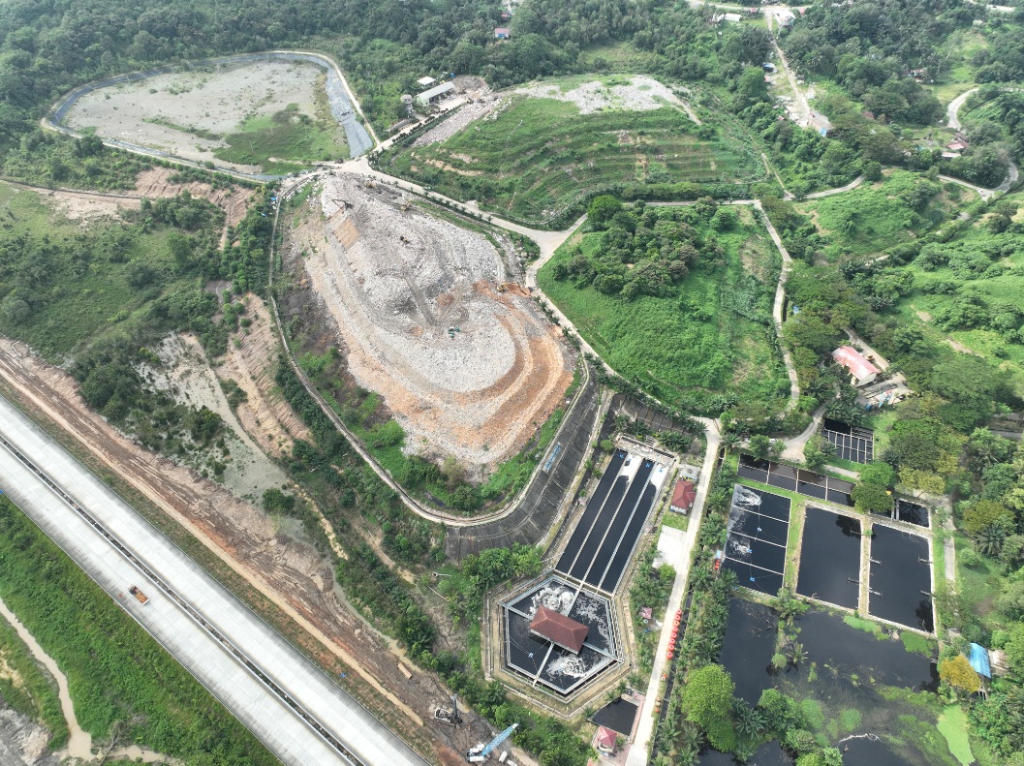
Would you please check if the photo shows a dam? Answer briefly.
No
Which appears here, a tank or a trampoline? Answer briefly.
tank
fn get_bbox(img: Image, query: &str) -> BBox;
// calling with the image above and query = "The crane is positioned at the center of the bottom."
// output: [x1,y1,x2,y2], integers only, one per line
[461,722,520,766]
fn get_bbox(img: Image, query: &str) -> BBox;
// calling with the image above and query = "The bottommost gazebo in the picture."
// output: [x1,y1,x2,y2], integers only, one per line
[595,725,619,753]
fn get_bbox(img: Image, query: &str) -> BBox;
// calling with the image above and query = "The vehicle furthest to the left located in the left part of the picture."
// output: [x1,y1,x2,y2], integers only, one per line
[125,581,150,605]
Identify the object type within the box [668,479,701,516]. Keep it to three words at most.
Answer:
house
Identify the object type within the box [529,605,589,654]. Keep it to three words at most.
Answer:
building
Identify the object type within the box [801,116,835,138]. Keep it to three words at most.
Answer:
barn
